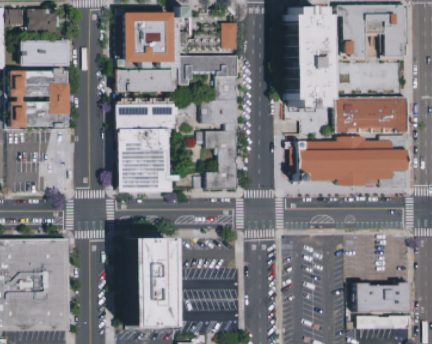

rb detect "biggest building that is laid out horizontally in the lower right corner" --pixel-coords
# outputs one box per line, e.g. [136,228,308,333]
[352,282,412,311]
